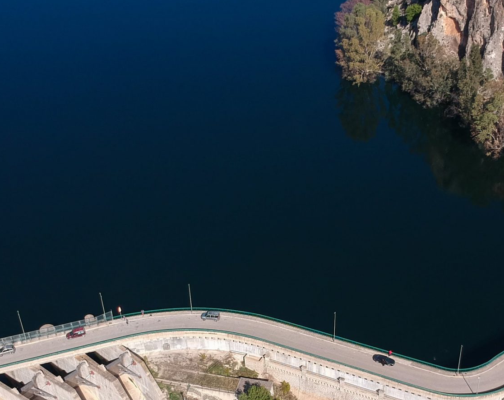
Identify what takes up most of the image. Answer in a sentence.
The scene is dominated by water.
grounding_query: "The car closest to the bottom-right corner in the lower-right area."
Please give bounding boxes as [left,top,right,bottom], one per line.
[373,352,395,366]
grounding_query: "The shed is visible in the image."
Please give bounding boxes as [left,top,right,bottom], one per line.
[236,376,274,400]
